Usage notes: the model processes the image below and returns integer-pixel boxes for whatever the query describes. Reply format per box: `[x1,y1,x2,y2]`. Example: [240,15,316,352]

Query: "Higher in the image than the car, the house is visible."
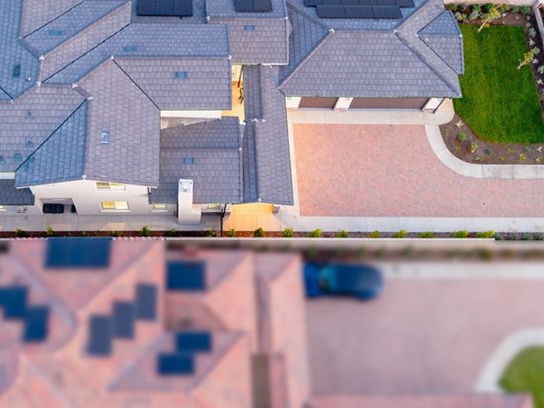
[0,0,464,224]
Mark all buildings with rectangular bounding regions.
[0,236,533,408]
[0,0,464,224]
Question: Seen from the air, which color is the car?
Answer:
blue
